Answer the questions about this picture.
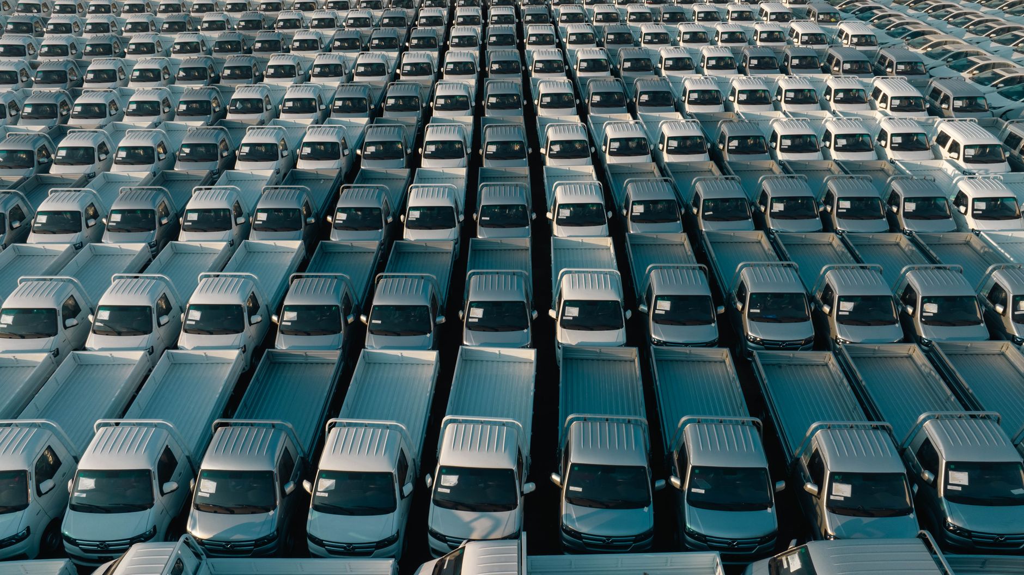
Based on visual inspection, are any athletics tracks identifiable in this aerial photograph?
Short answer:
No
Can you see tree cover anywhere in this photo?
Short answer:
No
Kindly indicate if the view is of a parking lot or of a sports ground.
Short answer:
parking lot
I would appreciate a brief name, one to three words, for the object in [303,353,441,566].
truck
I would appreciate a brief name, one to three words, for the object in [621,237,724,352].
truck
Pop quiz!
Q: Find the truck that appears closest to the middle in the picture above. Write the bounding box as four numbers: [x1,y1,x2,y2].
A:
[456,241,541,353]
